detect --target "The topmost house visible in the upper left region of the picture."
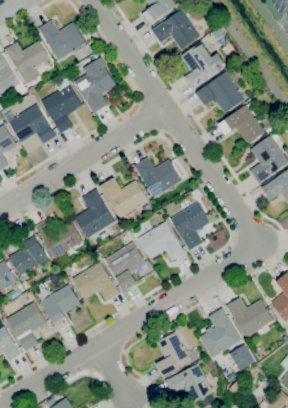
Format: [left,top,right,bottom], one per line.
[38,20,91,60]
